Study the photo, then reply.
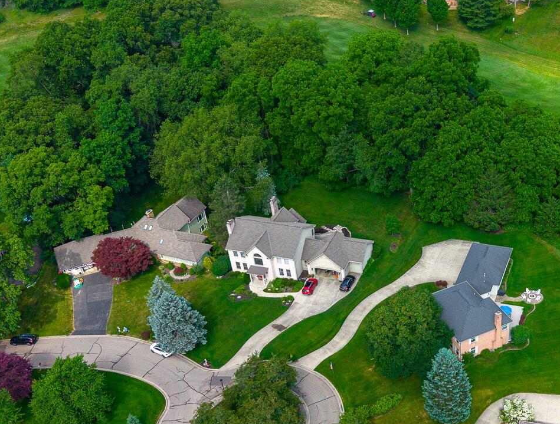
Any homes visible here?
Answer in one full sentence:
Yes, you can see a home in this photo.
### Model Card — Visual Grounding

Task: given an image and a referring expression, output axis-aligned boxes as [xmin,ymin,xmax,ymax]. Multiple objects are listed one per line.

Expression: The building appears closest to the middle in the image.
[225,196,373,287]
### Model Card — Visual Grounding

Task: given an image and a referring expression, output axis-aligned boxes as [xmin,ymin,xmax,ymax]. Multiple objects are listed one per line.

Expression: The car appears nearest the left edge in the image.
[8,328,37,344]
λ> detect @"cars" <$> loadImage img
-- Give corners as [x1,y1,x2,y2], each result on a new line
[147,341,173,357]
[8,328,37,344]
[300,275,319,294]
[336,273,357,292]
